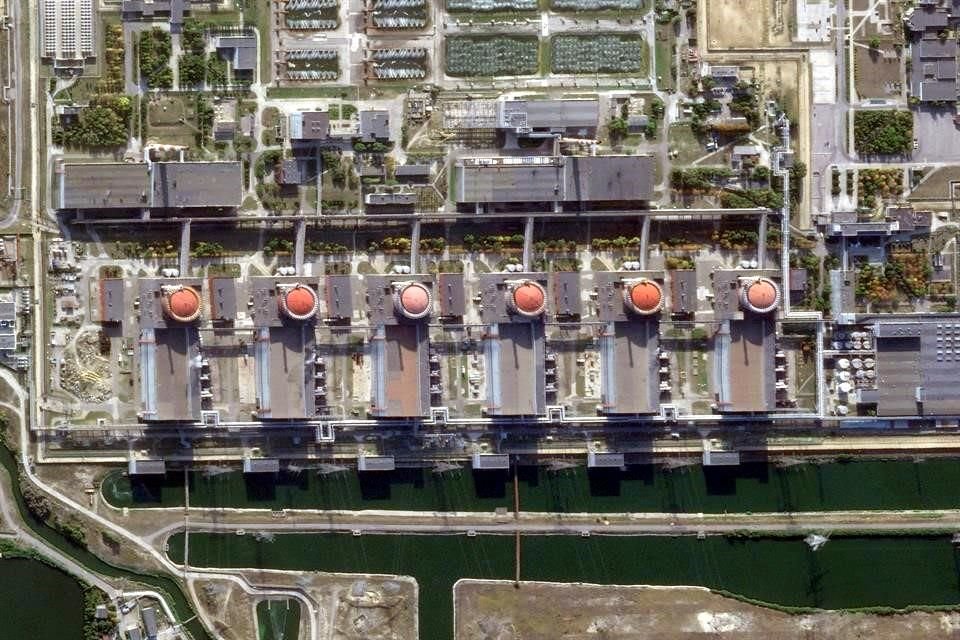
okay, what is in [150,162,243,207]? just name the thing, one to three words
building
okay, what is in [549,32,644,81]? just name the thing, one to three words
pond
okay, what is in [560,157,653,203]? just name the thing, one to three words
building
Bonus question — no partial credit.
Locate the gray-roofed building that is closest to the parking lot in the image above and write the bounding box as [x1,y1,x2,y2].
[917,82,957,100]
